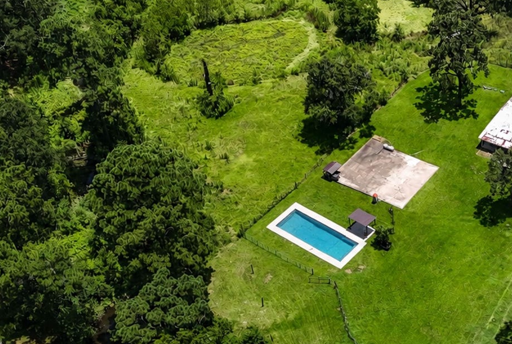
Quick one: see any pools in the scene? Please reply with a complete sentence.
Yes, I can see a pool in this picture.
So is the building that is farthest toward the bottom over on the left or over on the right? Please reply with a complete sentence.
The building that is farthest toward the bottom appears in the right half of the scene.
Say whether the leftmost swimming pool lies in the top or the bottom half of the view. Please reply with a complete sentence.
It is in the bottom half that the leftmost swimming pool appears.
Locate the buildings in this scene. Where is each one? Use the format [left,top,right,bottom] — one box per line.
[322,162,342,184]
[347,208,377,239]
[473,98,512,159]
